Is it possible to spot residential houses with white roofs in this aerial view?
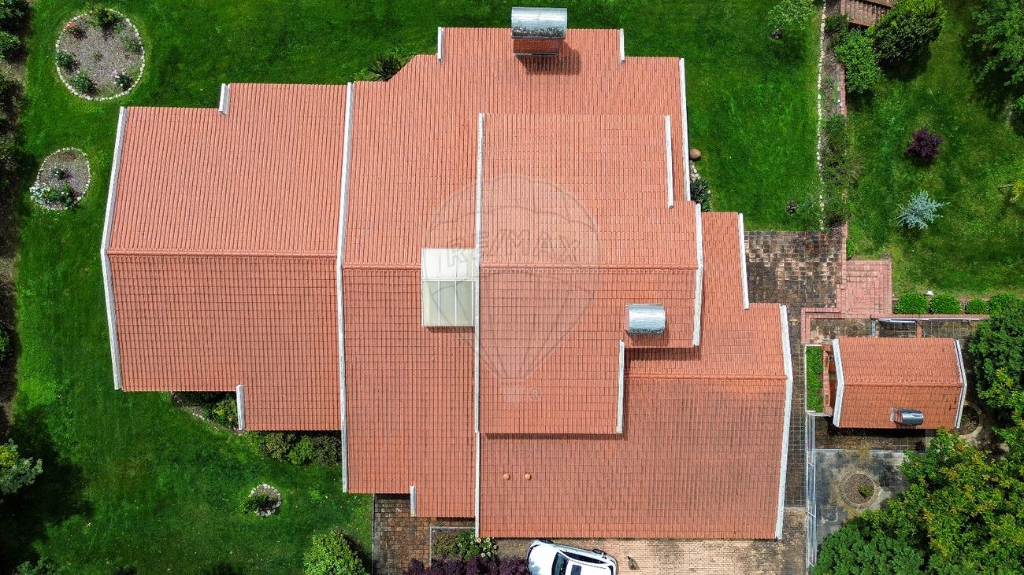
No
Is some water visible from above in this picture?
No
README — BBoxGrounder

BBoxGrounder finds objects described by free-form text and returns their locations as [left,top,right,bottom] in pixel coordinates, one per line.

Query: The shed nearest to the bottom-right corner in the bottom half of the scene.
[828,337,964,430]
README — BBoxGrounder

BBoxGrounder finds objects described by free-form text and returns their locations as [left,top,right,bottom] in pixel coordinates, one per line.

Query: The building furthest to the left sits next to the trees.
[100,26,791,543]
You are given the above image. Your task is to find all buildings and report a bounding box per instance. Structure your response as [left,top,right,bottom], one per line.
[828,337,964,430]
[100,26,791,543]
